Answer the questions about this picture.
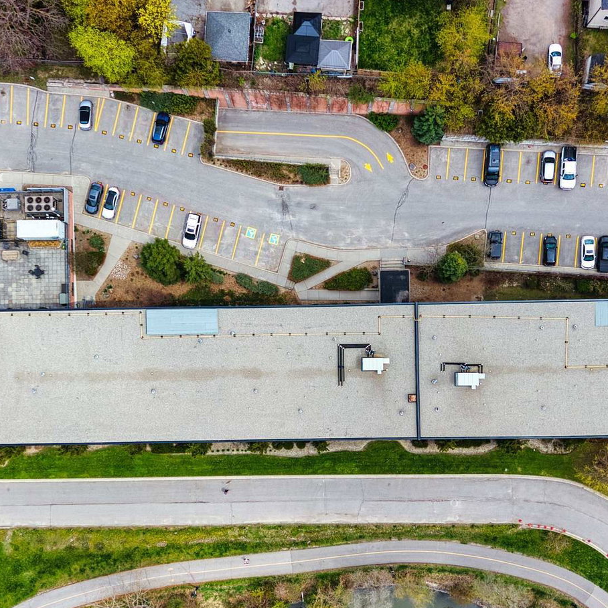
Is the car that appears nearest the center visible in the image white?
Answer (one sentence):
Yes, the car that appears nearest the center appears white.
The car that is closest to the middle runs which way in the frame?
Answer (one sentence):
The car that is closest to the middle is laid out up and down.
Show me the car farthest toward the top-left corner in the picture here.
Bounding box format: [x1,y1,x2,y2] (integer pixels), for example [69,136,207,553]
[77,98,94,133]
